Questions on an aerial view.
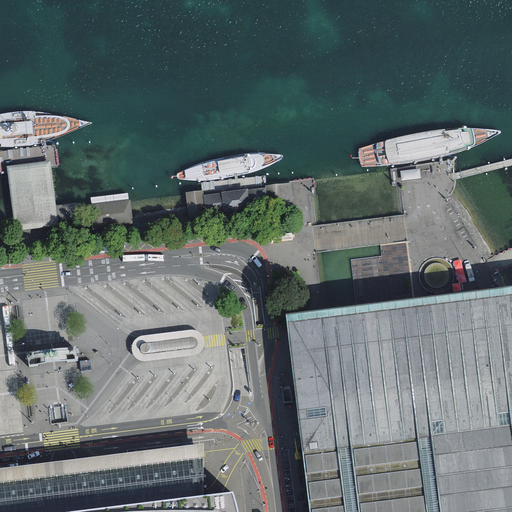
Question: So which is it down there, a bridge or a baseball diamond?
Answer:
bridge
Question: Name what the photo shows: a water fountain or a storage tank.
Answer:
water fountain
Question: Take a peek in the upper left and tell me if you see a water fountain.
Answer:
No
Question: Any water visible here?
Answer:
Yes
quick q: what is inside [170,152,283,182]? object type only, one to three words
ship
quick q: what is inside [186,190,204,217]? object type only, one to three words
building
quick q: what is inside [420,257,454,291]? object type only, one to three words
fountain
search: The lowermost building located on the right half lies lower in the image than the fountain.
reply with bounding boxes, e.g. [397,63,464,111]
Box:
[287,288,512,512]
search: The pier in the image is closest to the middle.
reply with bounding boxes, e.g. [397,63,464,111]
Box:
[202,176,263,191]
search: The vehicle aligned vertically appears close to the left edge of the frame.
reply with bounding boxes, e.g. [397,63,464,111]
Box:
[0,305,15,371]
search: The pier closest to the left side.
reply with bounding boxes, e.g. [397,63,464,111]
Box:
[0,145,57,168]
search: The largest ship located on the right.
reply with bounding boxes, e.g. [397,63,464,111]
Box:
[350,125,501,168]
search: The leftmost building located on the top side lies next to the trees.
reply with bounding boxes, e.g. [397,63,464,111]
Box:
[6,161,58,230]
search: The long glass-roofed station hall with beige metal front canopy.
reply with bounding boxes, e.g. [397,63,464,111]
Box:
[0,443,204,512]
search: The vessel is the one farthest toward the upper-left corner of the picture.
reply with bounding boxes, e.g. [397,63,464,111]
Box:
[0,110,94,149]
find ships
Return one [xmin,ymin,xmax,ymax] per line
[350,125,501,168]
[170,152,283,182]
[0,110,94,149]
